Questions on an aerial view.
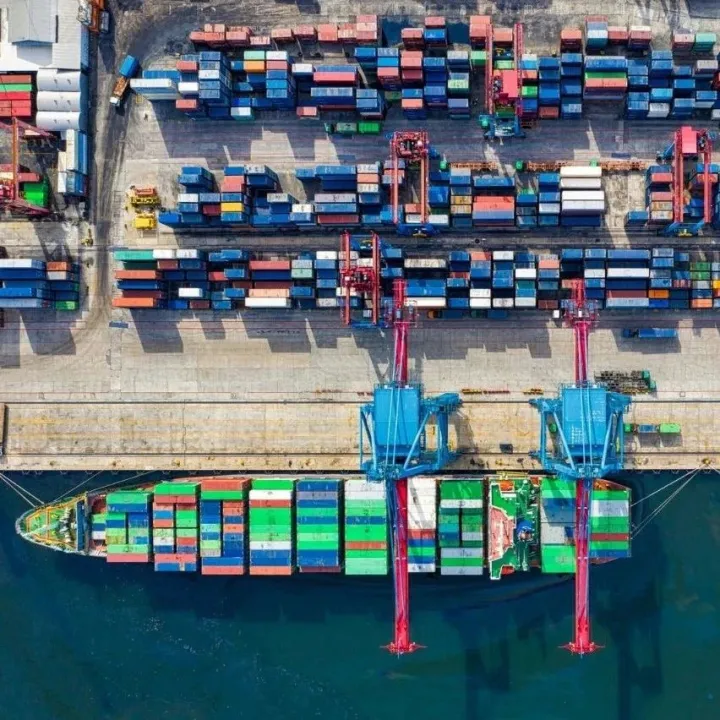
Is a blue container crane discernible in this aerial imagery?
Yes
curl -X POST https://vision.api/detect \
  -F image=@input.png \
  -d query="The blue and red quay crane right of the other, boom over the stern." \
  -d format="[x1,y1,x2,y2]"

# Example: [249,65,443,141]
[530,283,635,658]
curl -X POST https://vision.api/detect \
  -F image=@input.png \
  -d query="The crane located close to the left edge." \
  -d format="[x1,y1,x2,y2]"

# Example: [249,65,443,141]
[0,116,64,229]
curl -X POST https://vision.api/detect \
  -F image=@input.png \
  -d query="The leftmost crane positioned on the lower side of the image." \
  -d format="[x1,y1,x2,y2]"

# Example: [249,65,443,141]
[361,284,477,658]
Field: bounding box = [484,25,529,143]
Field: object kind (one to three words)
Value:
crane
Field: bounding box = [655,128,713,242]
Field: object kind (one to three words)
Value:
crane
